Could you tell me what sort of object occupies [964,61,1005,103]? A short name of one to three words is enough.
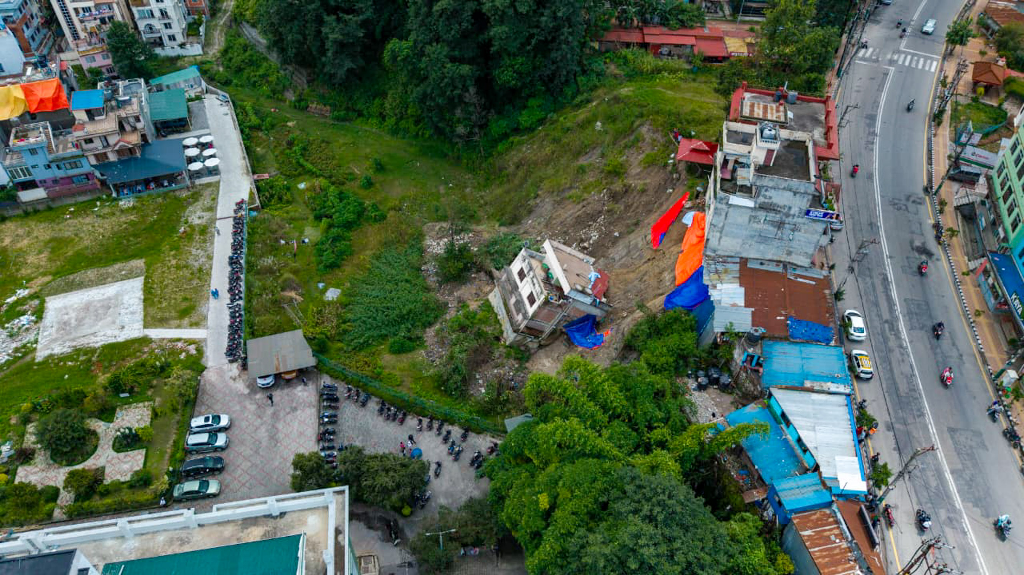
gazebo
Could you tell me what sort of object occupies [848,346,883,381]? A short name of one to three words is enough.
car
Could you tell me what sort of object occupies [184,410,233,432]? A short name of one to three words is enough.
car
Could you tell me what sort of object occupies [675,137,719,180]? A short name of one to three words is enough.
building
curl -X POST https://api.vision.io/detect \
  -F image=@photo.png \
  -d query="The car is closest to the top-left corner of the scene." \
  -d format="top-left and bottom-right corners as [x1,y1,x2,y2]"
[211,89,234,103]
